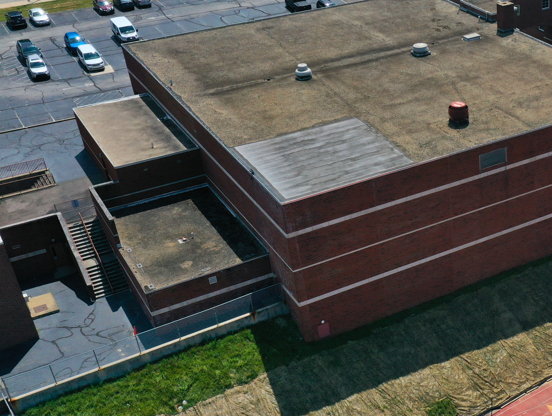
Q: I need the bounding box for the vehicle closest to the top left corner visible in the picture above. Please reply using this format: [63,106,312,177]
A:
[3,11,27,29]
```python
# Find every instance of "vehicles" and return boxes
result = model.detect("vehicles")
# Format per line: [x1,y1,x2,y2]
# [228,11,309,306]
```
[91,0,114,15]
[18,40,45,60]
[131,0,151,8]
[66,32,89,54]
[76,45,105,71]
[113,0,134,11]
[23,55,50,80]
[108,16,137,43]
[27,10,49,26]
[3,11,27,29]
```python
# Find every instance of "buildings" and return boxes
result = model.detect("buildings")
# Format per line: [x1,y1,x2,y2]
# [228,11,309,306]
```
[0,235,40,352]
[121,0,552,342]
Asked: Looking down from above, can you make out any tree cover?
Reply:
No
